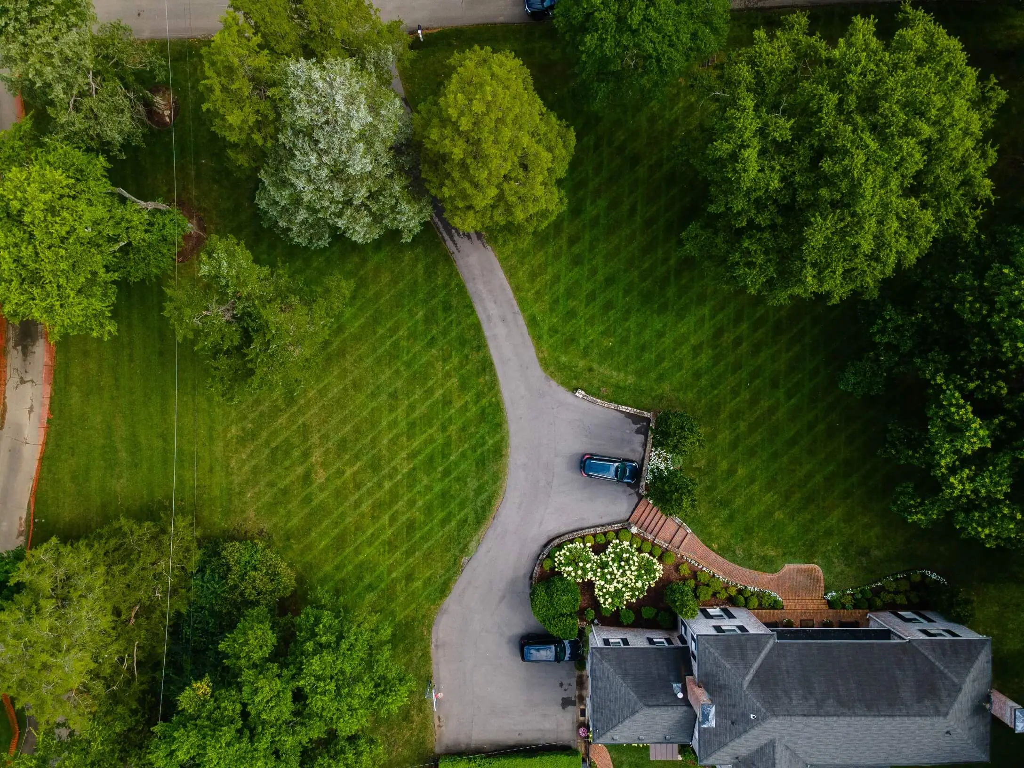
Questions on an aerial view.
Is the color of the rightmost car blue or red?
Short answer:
blue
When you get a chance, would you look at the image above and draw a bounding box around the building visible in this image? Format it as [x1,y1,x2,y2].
[586,609,1024,768]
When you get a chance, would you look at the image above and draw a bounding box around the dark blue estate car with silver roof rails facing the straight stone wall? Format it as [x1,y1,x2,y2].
[580,454,640,482]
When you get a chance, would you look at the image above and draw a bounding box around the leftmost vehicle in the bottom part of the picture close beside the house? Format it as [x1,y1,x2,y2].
[520,635,580,666]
